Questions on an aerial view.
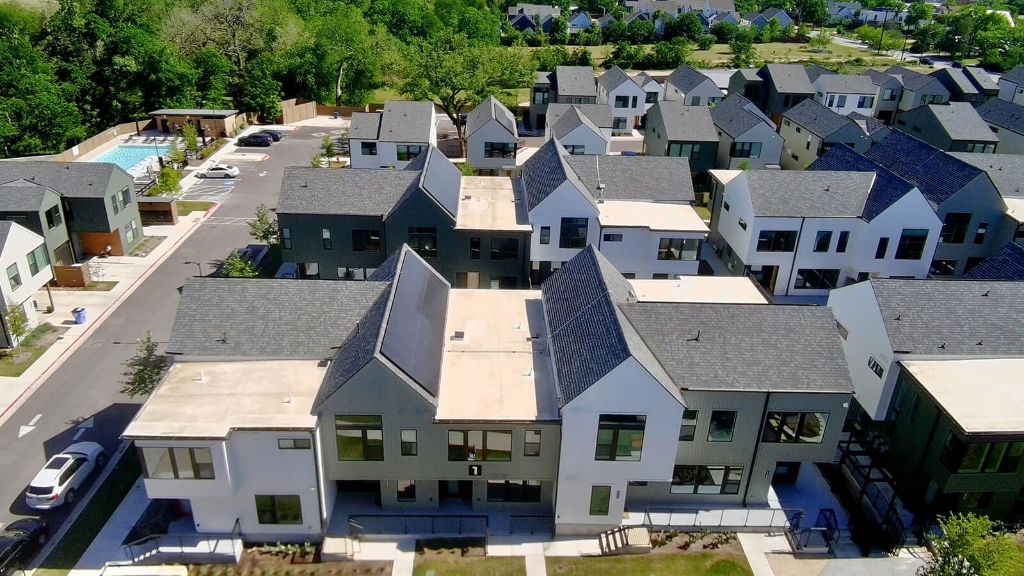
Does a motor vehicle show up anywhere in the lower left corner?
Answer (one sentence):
Yes, a motor vehicle shows up in the lower left corner.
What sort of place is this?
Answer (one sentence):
This image shows a residential area.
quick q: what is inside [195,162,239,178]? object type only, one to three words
car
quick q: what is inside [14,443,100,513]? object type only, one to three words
car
